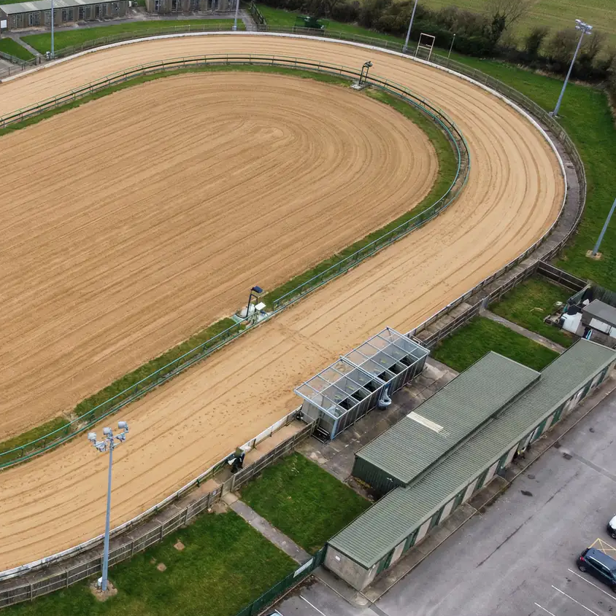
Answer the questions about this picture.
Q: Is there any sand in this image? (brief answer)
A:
Yes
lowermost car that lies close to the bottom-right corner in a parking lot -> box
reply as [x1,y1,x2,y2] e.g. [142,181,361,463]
[577,544,616,587]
